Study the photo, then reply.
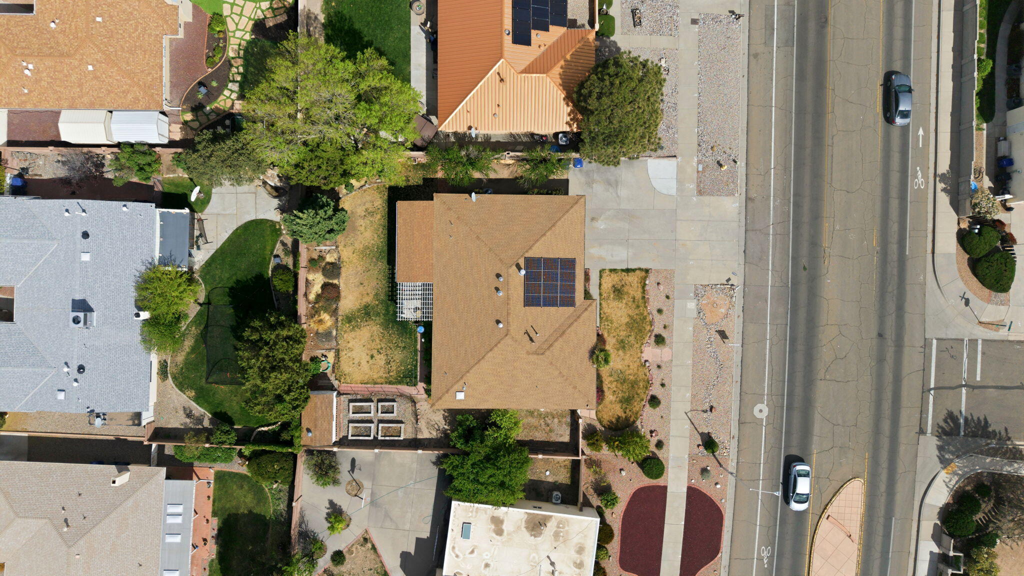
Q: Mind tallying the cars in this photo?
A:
two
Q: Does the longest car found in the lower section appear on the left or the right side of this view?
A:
right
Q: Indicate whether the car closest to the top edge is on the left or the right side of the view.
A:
right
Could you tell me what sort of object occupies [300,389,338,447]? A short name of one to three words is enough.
shed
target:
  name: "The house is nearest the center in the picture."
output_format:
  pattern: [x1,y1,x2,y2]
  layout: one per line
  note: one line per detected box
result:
[395,193,597,410]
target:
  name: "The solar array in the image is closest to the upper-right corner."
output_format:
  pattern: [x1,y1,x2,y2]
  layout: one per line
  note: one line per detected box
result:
[513,0,568,45]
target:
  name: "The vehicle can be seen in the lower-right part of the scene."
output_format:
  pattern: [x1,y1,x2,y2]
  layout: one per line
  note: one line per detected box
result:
[785,456,814,509]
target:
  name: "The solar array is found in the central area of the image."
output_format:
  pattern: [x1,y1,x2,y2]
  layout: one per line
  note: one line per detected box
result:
[525,257,576,308]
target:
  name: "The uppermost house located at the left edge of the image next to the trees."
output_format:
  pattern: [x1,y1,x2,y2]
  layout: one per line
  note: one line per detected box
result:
[0,0,184,111]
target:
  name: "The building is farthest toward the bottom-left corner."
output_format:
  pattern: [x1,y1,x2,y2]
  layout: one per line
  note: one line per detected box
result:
[0,461,166,576]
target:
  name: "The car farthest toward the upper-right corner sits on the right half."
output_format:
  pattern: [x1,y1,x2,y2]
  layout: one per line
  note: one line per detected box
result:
[888,72,919,126]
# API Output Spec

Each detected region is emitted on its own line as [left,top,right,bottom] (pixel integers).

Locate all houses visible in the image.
[442,495,601,576]
[0,461,166,576]
[0,197,157,412]
[0,0,184,111]
[1005,107,1024,208]
[437,0,597,132]
[395,193,597,410]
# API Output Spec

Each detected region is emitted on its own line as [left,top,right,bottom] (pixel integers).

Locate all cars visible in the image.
[785,456,814,509]
[888,72,919,126]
